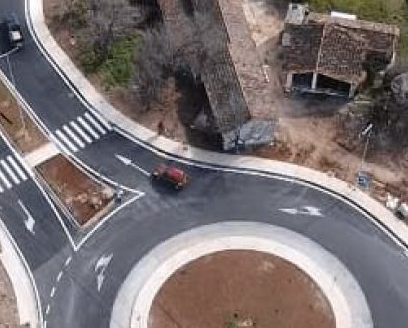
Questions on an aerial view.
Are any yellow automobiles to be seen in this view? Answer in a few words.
No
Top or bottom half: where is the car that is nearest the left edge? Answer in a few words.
top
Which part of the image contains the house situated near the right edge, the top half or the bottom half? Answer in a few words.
top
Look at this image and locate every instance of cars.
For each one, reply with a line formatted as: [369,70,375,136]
[2,22,24,49]
[149,165,190,191]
